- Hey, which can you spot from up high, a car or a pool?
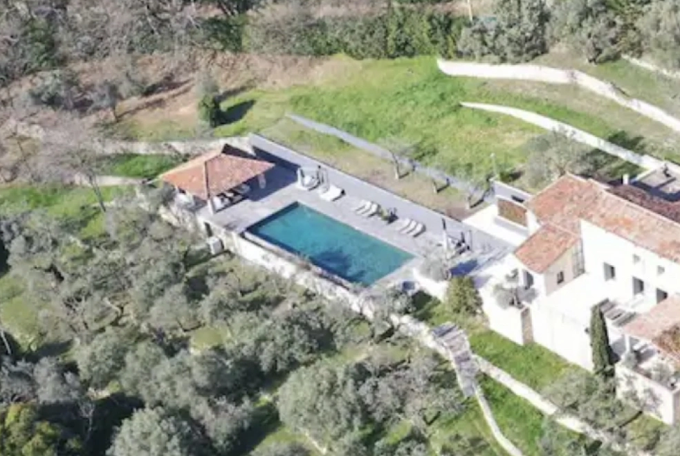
pool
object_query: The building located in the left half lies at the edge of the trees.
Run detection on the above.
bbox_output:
[162,142,276,224]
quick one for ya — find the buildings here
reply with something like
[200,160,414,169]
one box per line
[162,142,276,224]
[515,171,680,370]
